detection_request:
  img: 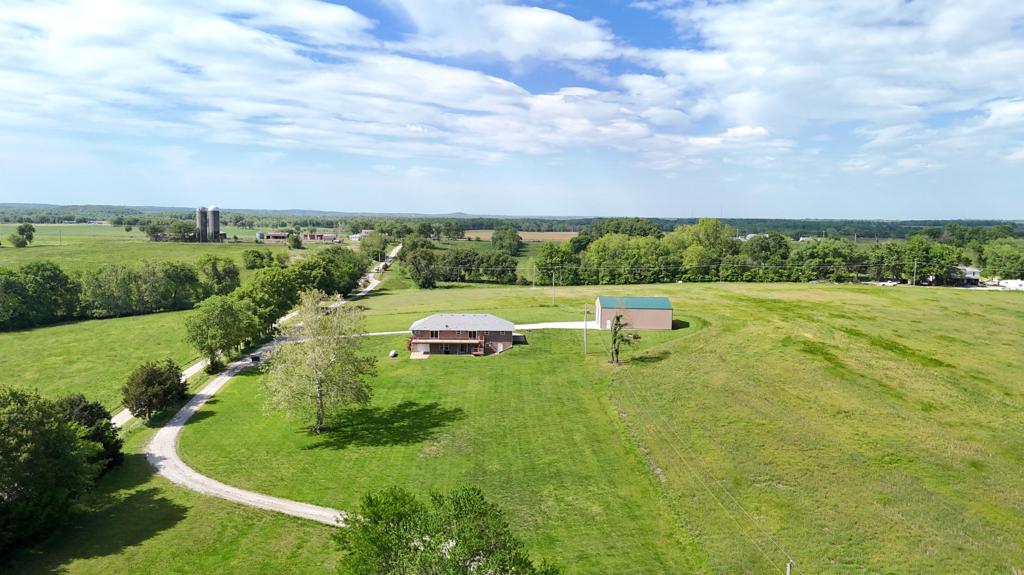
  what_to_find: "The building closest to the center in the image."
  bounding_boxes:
[408,312,516,356]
